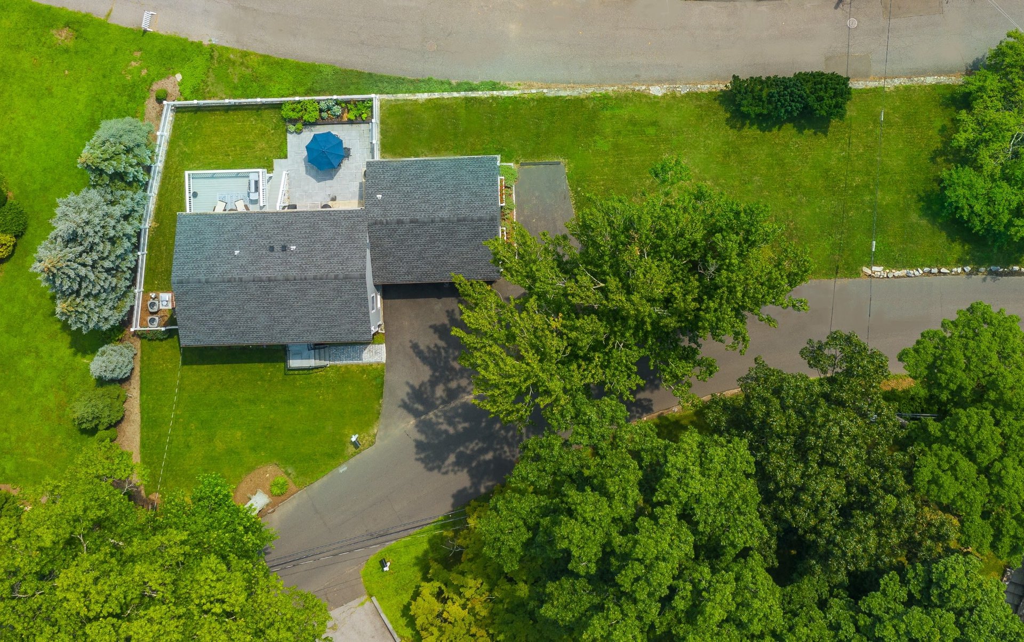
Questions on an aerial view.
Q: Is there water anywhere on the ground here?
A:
No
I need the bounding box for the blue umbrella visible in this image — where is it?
[305,132,345,172]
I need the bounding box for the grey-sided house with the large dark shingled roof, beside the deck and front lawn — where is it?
[170,208,387,347]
